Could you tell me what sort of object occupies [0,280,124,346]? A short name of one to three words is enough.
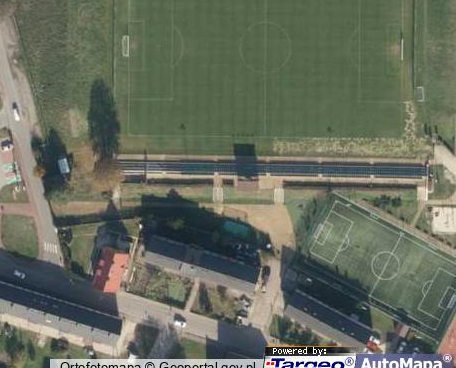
building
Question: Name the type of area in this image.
sports ground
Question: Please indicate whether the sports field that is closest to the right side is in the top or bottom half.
bottom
